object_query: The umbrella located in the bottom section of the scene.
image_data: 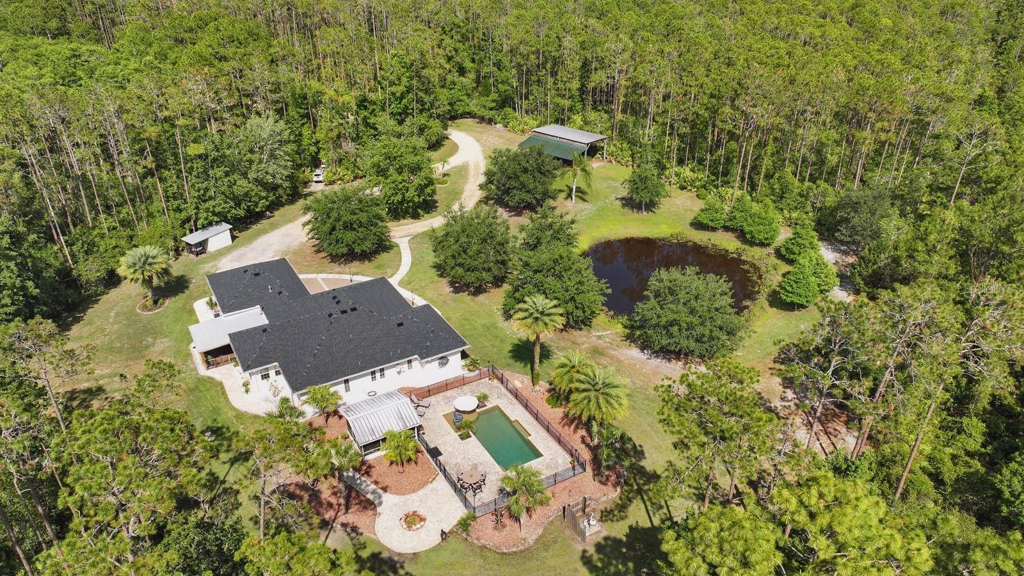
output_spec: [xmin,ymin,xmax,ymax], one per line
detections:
[454,395,479,414]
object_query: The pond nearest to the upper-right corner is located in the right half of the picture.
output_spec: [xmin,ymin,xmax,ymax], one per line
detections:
[577,237,767,331]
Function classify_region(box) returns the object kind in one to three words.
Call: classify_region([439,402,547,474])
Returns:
swimming pool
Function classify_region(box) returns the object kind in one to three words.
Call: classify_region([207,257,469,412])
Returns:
house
